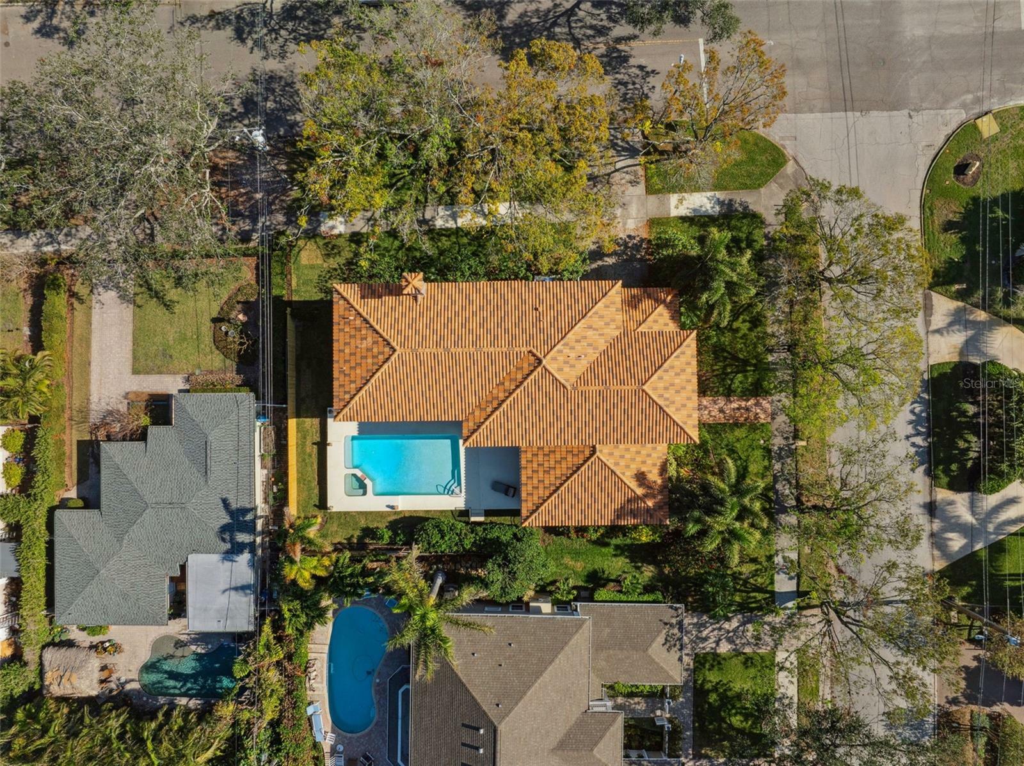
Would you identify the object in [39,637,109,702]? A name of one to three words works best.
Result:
shed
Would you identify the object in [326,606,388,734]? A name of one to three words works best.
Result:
swimming pool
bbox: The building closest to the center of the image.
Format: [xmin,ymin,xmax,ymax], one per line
[331,272,700,528]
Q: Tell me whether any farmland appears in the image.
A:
No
